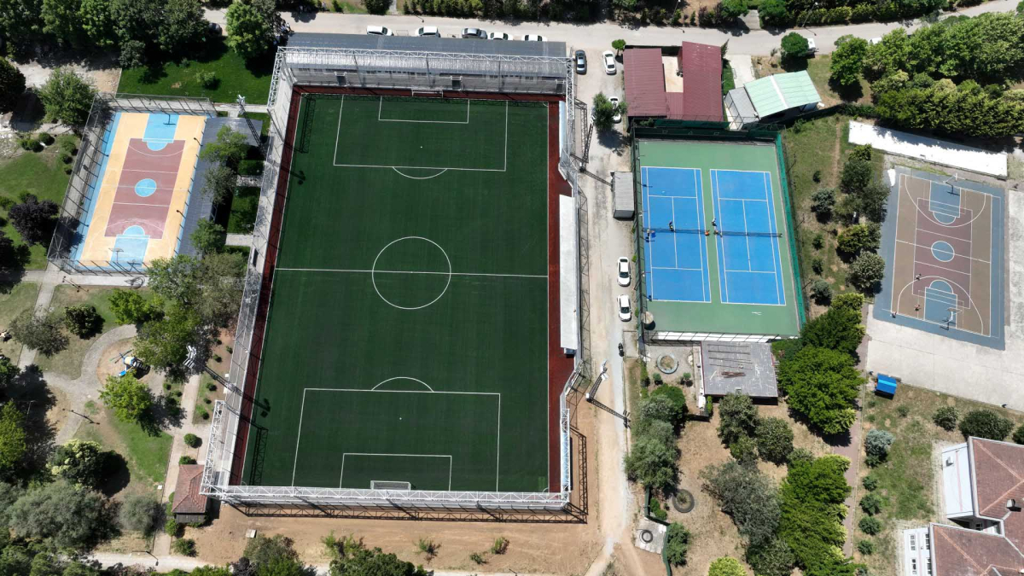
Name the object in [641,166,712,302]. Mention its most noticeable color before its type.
blue tennis court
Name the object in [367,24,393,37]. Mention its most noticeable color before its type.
white vehicle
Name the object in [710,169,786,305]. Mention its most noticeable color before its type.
blue tennis court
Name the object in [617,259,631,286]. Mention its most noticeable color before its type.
white car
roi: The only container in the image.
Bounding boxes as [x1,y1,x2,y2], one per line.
[610,171,635,218]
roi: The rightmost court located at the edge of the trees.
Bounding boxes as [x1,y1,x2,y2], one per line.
[873,166,1005,351]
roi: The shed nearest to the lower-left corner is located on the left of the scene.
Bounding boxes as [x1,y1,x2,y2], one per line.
[171,465,212,523]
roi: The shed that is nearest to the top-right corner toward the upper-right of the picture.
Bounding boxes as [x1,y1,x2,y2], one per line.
[740,68,821,123]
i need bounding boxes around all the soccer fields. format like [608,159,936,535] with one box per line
[228,85,575,495]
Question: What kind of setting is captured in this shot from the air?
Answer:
sports ground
